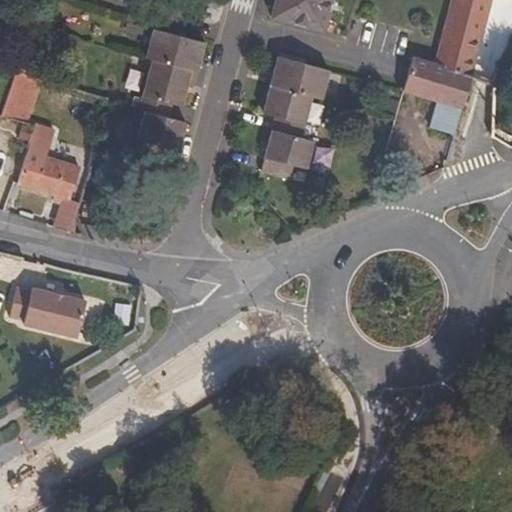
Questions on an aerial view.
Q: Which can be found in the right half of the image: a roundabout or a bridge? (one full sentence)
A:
Visible in the right half of the image is a roundabout.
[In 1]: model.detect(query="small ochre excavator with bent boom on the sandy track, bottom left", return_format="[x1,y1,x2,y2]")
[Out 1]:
[8,468,34,488]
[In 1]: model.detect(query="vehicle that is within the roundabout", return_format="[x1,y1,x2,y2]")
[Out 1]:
[338,245,354,268]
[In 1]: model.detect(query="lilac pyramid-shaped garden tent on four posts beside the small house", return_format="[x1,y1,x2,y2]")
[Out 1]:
[314,146,335,168]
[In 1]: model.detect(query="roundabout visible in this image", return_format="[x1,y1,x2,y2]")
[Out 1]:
[312,214,484,386]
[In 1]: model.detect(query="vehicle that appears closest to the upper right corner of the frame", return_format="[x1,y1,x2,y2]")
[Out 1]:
[397,33,409,54]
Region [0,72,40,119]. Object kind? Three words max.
building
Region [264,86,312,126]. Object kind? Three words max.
house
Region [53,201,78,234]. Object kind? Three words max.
building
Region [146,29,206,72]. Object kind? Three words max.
house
